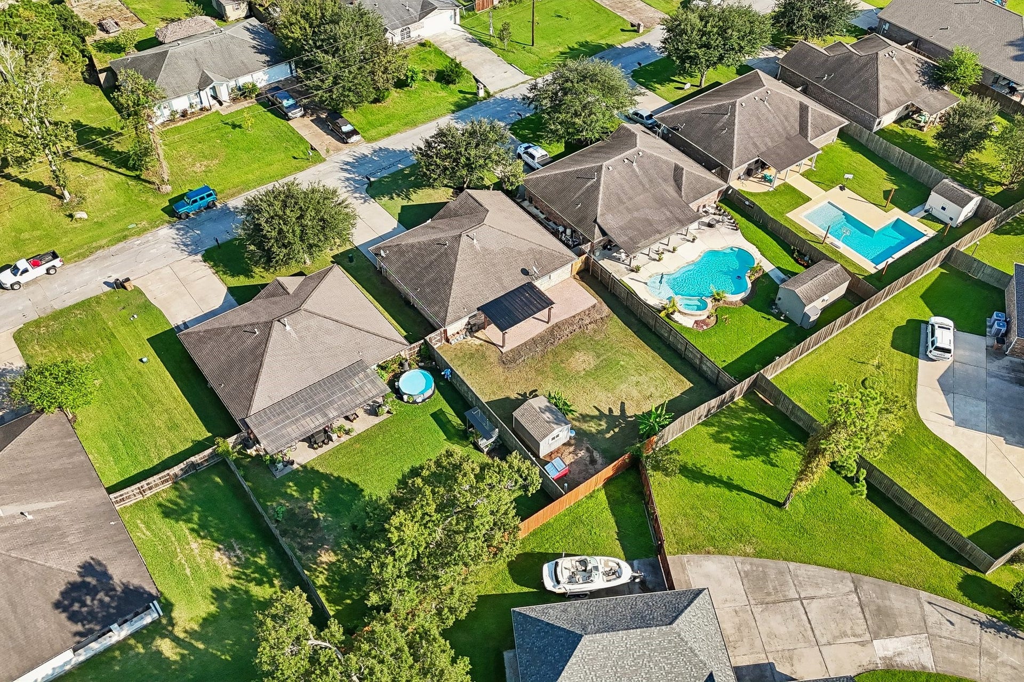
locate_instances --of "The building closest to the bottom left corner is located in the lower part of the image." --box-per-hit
[0,398,168,682]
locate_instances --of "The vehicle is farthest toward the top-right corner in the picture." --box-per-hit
[925,312,955,357]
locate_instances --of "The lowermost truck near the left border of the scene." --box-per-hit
[0,247,64,288]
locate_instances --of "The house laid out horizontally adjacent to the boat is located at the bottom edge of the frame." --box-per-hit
[511,587,735,682]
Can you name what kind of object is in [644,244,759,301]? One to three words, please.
swimming pool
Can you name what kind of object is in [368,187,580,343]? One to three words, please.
house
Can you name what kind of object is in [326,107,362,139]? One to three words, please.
truck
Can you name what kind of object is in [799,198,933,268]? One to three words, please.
swimming pool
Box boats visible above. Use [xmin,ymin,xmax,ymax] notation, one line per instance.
[543,551,633,588]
